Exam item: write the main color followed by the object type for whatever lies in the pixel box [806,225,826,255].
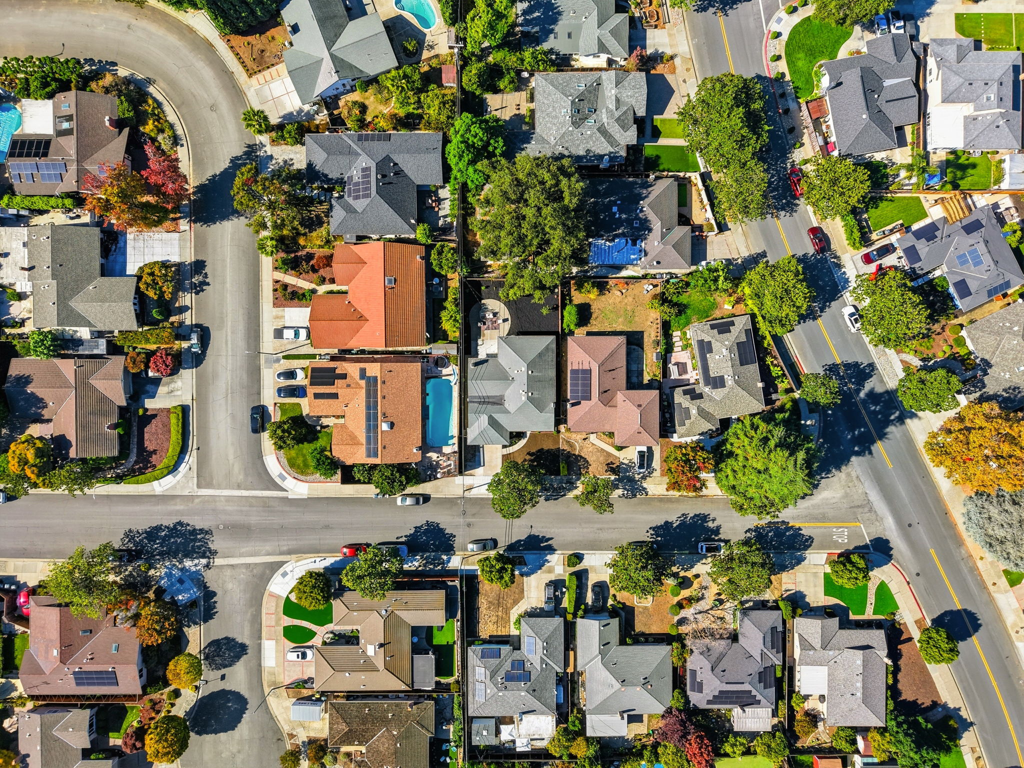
red car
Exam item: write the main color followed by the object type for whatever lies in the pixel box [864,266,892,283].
red car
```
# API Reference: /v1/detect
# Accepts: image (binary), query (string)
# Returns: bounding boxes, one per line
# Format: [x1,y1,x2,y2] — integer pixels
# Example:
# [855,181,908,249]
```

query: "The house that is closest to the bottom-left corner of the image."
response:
[8,704,122,768]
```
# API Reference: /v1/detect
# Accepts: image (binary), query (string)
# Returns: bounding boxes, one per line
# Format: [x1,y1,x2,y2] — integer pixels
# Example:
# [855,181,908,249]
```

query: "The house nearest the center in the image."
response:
[467,336,555,445]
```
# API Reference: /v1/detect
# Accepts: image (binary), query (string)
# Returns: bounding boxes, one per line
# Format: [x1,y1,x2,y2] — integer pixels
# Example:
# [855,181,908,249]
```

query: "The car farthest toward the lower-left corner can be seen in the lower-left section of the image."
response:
[17,587,32,614]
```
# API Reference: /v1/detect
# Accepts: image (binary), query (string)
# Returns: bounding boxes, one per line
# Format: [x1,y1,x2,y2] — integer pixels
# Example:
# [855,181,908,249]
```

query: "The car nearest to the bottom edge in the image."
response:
[286,646,314,661]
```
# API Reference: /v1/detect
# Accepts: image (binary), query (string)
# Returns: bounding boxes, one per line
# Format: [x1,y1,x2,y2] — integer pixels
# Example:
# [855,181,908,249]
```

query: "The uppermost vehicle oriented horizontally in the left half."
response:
[274,326,309,340]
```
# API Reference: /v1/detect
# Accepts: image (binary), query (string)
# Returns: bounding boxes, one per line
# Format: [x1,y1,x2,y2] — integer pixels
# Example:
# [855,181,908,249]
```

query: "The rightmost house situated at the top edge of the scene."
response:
[922,38,1024,153]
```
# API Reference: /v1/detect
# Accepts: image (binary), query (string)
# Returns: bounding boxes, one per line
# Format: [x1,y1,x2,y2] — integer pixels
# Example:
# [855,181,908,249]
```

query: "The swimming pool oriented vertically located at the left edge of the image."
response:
[0,100,23,154]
